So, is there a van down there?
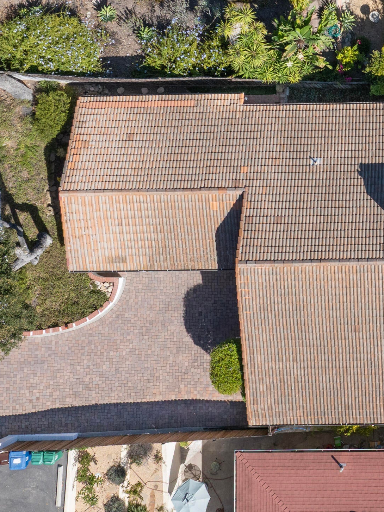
No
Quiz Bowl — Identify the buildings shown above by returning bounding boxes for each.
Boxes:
[232,447,384,512]
[56,91,384,430]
